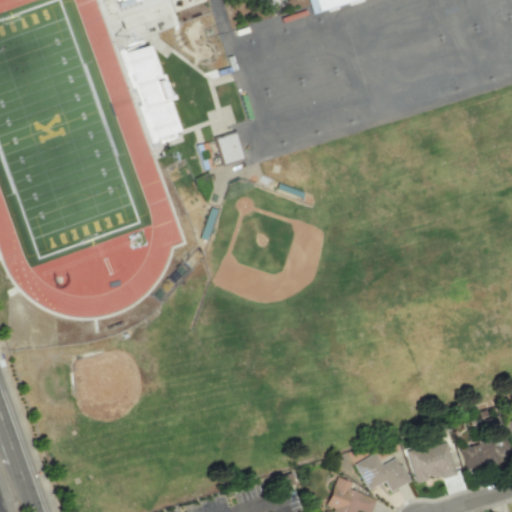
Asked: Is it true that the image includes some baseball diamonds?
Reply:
Yes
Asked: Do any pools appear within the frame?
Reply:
No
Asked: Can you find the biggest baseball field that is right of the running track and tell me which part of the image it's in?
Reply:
center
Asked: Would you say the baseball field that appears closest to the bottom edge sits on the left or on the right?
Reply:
left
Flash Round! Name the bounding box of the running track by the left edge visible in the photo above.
[0,0,188,320]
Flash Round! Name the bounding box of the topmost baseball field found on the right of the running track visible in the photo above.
[213,195,324,303]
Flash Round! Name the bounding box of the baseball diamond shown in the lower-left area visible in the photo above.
[75,350,142,420]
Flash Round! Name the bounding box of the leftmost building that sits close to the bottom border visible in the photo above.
[326,474,380,512]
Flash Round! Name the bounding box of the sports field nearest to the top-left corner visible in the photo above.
[0,0,152,268]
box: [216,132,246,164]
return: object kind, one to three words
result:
building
